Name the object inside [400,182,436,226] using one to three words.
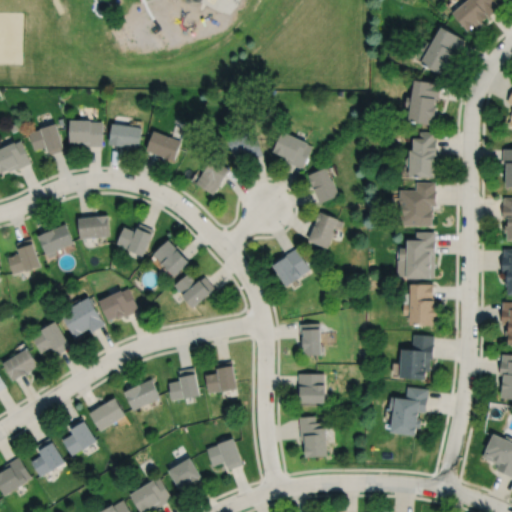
house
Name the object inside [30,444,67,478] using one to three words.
house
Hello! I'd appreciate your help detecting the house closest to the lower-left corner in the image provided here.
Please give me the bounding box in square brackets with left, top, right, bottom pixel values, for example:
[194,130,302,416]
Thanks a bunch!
[0,458,32,496]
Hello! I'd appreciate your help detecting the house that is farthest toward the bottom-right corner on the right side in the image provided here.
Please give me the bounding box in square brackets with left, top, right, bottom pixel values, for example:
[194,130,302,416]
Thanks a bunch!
[482,435,512,476]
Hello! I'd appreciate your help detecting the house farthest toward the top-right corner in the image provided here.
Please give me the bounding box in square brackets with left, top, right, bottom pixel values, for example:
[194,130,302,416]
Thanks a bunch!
[452,0,500,31]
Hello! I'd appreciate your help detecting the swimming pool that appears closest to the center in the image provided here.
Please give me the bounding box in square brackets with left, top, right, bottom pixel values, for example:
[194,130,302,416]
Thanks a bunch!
[142,271,157,289]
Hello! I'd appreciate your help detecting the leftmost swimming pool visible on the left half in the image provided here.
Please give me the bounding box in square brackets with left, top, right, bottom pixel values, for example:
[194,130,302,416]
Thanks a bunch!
[58,254,76,272]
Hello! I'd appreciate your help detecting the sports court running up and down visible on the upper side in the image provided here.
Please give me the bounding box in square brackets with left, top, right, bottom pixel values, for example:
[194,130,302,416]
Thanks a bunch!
[0,12,24,66]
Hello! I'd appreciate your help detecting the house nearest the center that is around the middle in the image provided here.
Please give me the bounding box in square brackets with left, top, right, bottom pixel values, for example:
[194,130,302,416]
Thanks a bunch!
[272,250,311,286]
